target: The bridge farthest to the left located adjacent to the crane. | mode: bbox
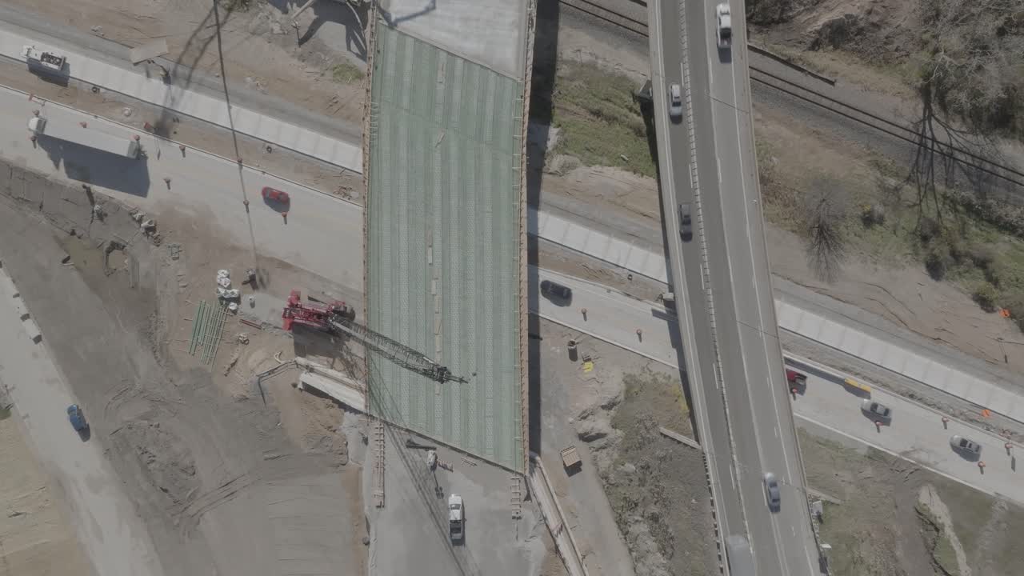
[361,0,536,476]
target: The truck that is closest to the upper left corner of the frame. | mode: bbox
[23,45,72,76]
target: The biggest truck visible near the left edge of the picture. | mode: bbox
[18,113,140,162]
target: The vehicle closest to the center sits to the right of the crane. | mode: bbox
[539,279,573,300]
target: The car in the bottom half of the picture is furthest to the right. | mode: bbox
[949,435,984,455]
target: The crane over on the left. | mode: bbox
[272,283,476,383]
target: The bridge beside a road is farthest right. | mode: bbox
[633,0,837,527]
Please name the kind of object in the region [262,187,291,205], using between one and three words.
car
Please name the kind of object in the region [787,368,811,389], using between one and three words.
truck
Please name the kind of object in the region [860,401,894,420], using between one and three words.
car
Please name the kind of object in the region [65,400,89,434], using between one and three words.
truck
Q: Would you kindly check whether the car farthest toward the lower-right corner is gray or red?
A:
gray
